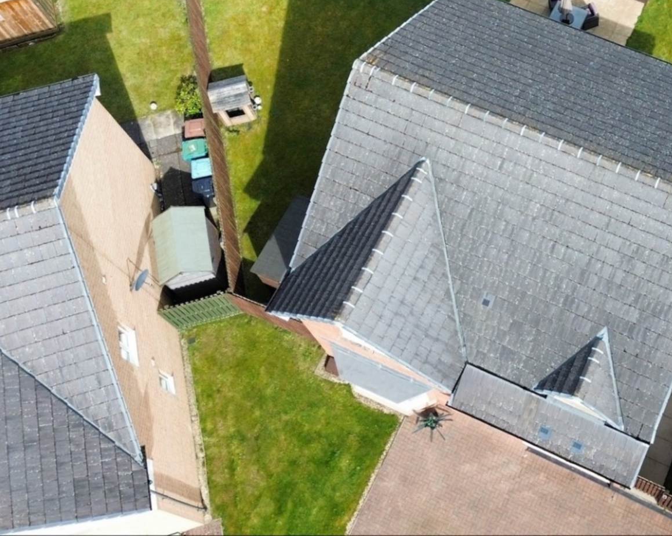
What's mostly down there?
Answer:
buildings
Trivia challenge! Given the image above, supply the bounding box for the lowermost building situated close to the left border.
[0,74,208,536]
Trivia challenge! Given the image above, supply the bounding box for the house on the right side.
[265,0,672,491]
